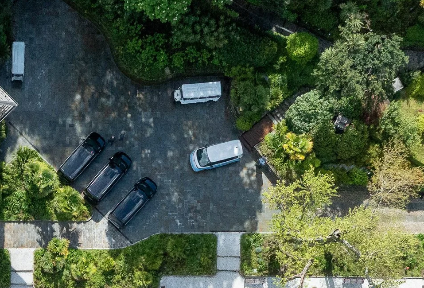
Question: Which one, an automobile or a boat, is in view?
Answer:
automobile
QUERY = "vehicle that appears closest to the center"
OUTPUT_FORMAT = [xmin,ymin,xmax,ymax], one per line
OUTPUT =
[187,138,247,176]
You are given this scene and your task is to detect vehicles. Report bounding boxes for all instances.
[55,129,107,188]
[79,153,131,211]
[104,176,157,235]
[172,80,227,112]
[187,138,247,176]
[11,39,25,89]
